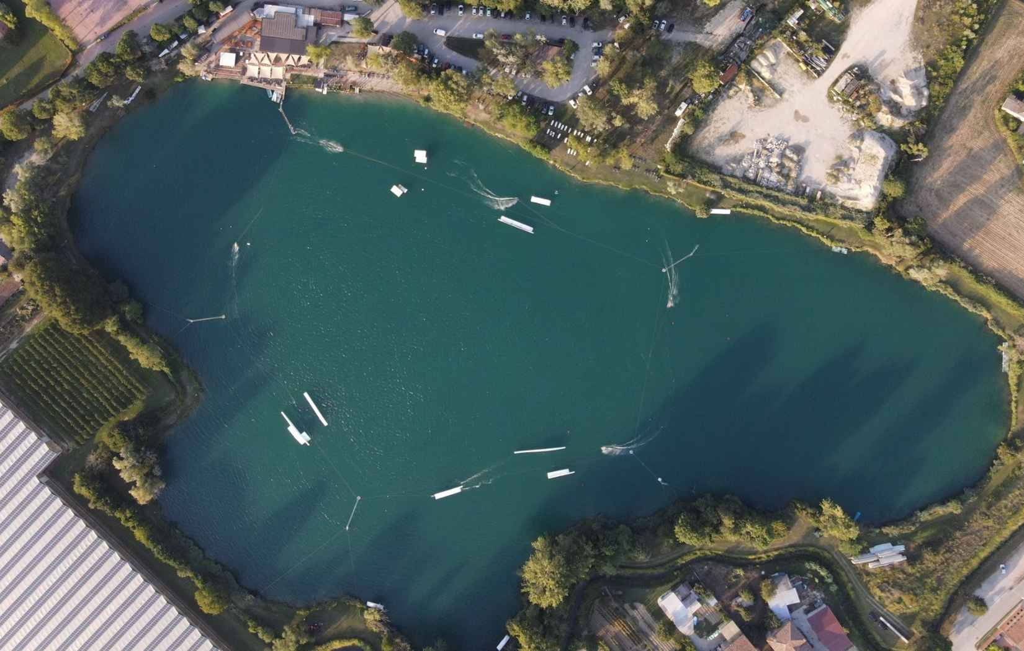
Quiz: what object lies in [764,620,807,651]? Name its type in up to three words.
house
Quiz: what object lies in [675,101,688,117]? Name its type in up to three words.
vehicle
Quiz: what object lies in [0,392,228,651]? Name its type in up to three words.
greenhouse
